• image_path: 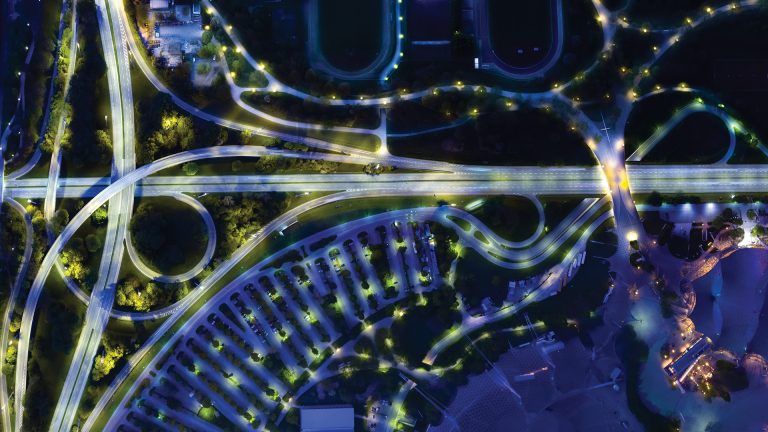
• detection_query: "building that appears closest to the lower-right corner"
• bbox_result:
[664,337,712,382]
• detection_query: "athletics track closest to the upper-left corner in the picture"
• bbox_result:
[308,0,392,80]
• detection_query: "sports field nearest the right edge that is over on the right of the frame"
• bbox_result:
[488,0,553,68]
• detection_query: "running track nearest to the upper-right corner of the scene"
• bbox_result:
[478,0,563,78]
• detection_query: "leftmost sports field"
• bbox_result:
[318,0,382,70]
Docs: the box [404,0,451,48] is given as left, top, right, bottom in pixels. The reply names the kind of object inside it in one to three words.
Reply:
sports court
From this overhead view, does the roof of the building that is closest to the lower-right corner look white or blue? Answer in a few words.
blue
